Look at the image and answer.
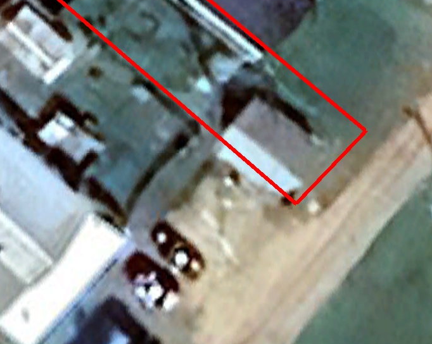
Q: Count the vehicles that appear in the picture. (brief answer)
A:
2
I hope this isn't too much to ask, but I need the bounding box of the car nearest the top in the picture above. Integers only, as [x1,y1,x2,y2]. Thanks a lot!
[145,218,208,281]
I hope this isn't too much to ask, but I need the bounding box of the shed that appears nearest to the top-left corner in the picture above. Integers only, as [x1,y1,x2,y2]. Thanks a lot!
[0,4,77,84]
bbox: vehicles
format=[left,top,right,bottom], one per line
[117,247,185,316]
[145,218,208,281]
